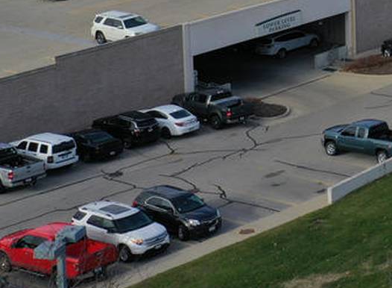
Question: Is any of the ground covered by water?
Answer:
No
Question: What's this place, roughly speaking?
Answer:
parking lot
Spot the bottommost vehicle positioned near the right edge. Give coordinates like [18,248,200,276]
[321,119,392,161]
